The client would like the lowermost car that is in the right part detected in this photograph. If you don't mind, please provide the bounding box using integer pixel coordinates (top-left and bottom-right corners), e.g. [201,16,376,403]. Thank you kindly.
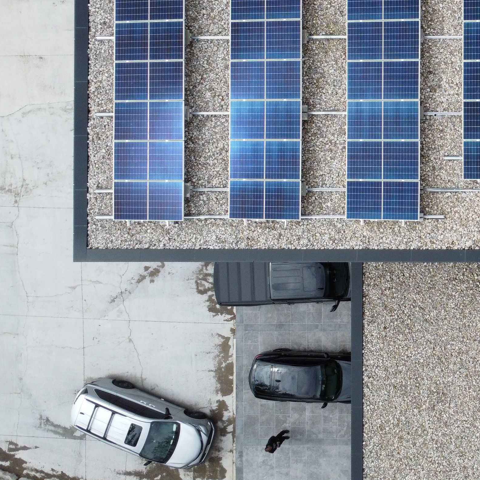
[248,347,351,414]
